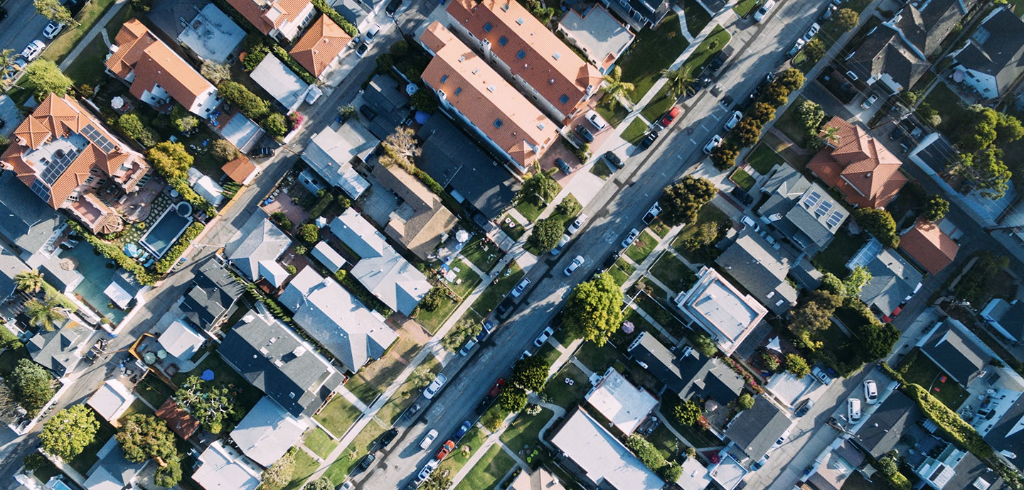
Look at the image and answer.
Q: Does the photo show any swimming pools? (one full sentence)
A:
Yes, there's a swimming pool down there.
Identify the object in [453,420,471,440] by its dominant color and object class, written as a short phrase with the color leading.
blue car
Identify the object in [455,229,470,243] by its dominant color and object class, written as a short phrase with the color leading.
white umbrella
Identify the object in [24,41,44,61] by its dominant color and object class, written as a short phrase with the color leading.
white car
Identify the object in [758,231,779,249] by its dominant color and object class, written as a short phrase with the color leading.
blue car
